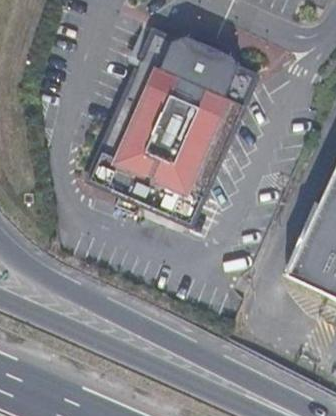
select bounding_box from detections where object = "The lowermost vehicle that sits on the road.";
[308,403,329,416]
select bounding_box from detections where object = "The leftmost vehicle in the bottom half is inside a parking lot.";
[158,268,170,288]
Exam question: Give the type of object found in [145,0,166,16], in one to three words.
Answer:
car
